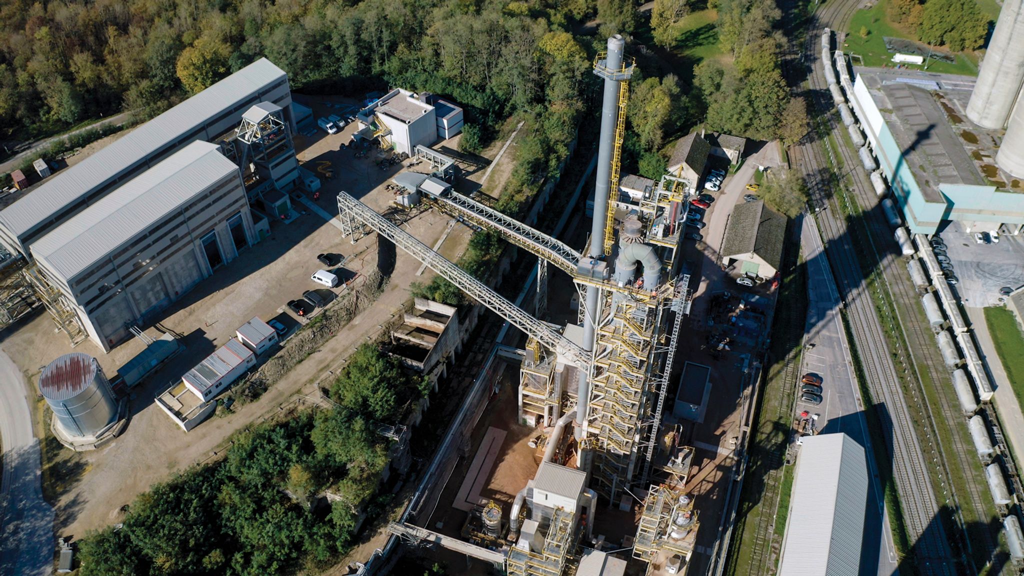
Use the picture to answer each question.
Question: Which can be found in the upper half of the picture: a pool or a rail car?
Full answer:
Looking in the upper half of the picture, you will find a rail car.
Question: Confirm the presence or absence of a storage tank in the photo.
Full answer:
Yes, the picture does show a storage tank.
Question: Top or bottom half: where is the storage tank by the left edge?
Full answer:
You can find the storage tank by the left edge in the bottom half.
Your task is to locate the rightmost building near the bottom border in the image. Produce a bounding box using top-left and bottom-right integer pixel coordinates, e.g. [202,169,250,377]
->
[777,432,868,576]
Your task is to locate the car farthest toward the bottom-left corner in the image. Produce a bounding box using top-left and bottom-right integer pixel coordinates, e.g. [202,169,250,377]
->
[266,317,287,334]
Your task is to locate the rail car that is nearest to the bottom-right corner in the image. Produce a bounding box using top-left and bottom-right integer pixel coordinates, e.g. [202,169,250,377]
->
[998,510,1024,569]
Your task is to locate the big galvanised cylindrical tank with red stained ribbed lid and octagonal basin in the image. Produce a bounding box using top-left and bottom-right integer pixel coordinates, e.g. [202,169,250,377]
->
[34,353,127,452]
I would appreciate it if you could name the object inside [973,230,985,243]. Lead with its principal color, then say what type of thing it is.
white vehicle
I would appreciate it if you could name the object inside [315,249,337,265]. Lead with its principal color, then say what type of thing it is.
black car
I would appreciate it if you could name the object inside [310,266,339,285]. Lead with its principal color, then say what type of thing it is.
white vehicle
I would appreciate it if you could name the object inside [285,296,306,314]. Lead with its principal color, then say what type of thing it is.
black car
